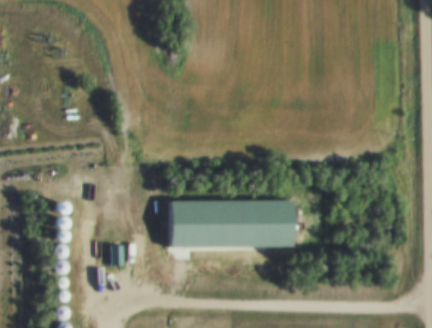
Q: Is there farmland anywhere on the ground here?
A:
Yes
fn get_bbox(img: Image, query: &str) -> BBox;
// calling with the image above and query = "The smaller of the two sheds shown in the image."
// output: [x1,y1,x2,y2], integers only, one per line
[108,242,124,267]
